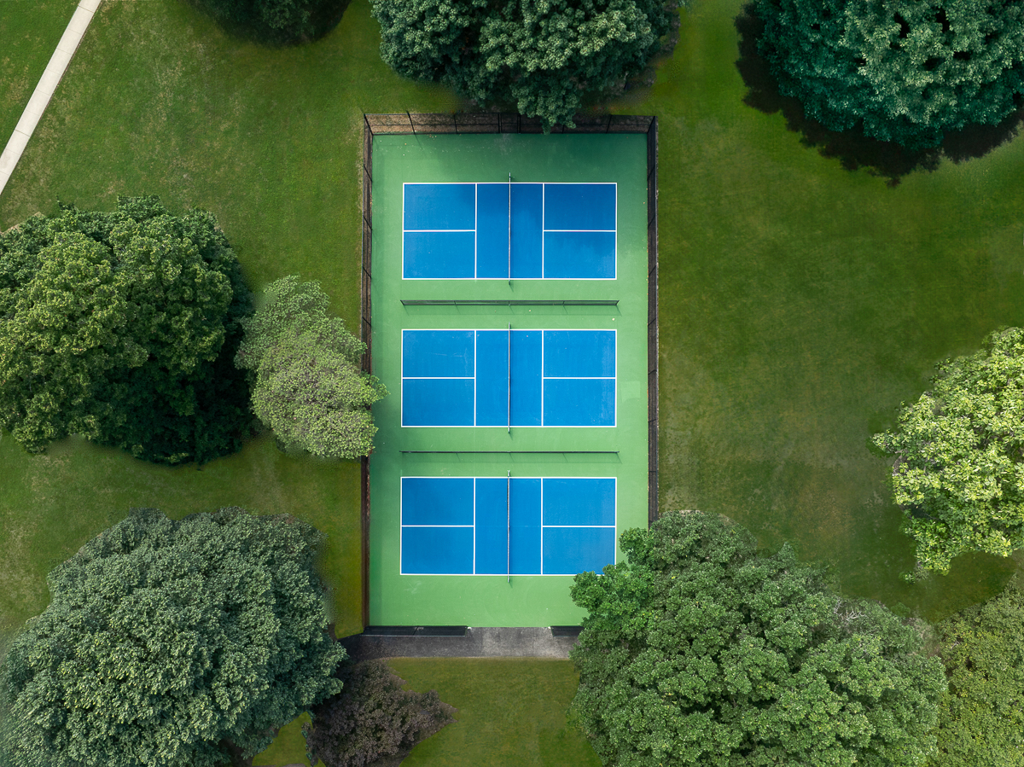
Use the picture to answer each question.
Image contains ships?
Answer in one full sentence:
No, the photo shows no ship.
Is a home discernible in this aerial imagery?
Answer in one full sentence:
No, no home is visible in the view.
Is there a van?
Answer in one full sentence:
No, there is no van in the image.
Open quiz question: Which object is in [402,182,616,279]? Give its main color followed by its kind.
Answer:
blue sports court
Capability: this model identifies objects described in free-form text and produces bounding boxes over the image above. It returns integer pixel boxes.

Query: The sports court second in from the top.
[401,329,616,427]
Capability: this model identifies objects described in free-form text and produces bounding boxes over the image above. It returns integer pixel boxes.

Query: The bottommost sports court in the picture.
[401,477,616,575]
